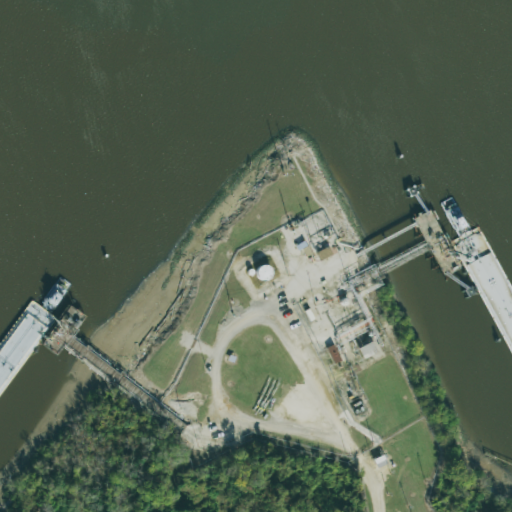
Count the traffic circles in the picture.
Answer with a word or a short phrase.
none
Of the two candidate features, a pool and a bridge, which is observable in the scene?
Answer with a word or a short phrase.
bridge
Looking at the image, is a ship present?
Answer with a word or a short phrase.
Yes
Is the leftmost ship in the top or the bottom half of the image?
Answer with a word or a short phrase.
bottom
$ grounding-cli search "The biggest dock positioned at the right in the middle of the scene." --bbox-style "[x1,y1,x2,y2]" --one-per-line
[416,208,464,276]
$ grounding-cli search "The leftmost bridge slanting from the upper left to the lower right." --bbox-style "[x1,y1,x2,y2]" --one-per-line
[64,333,186,430]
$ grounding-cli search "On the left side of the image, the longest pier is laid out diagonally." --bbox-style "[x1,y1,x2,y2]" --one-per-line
[44,306,87,355]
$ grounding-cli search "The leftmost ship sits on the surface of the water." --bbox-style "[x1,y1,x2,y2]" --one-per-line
[0,304,54,396]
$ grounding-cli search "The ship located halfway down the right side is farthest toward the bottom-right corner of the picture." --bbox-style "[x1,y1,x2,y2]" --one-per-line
[452,228,512,352]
